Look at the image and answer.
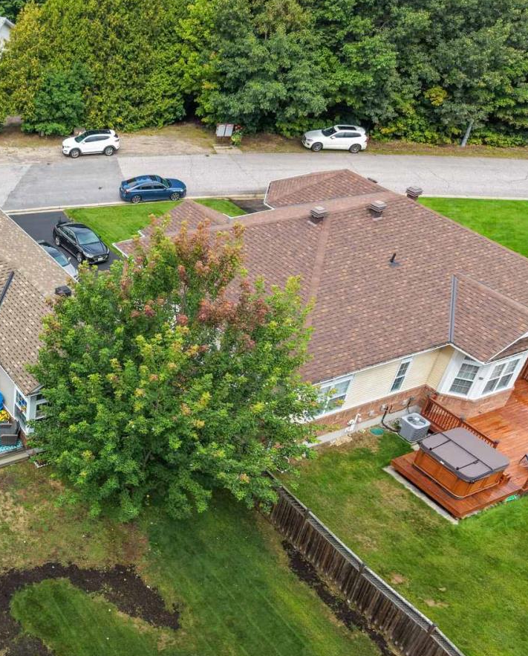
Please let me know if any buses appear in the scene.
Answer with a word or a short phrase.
No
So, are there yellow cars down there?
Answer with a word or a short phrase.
No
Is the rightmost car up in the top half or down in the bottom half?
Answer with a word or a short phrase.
top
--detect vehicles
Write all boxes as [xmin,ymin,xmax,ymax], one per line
[59,129,121,158]
[48,216,113,260]
[116,172,188,200]
[303,125,370,153]
[28,232,80,276]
